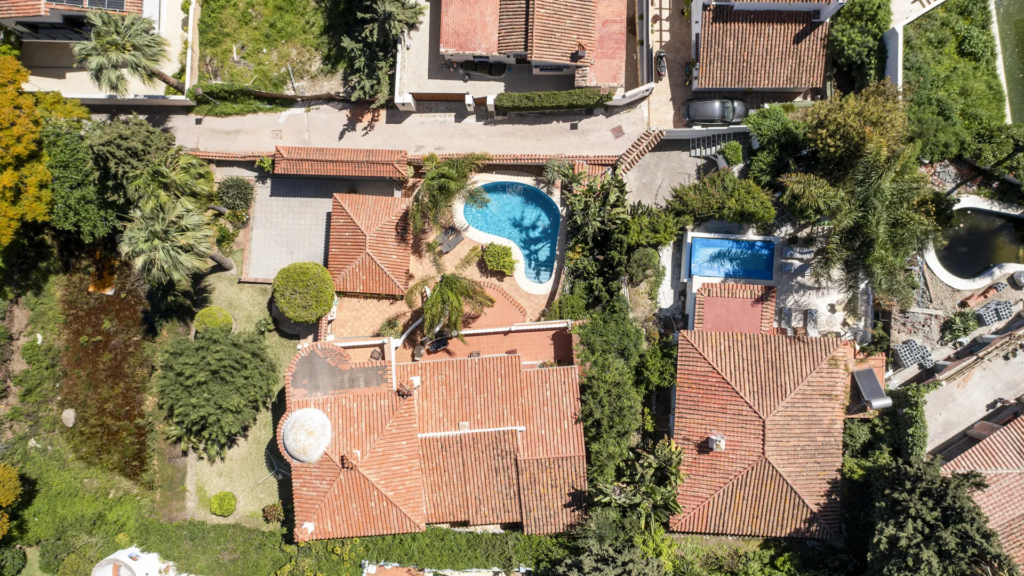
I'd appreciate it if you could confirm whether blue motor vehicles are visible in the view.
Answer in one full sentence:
No, there's no blue motor vehicle here.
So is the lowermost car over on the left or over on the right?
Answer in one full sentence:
It is on the right.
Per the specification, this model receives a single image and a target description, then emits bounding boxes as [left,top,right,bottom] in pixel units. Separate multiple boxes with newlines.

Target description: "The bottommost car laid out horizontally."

[681,96,746,128]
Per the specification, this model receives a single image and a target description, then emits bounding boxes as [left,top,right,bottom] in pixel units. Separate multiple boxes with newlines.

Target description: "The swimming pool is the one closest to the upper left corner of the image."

[454,171,568,294]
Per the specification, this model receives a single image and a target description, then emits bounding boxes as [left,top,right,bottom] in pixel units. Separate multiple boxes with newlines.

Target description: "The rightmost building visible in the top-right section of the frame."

[683,0,848,98]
